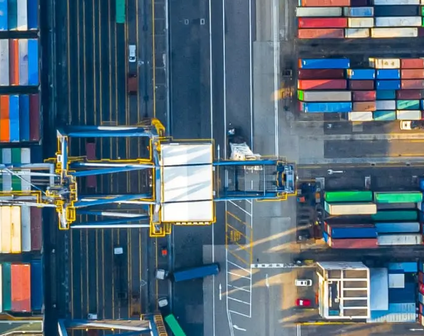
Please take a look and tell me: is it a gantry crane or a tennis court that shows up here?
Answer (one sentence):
I can see a gantry crane in this picture.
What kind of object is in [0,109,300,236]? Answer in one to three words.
container crane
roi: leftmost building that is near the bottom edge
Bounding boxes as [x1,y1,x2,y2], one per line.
[317,261,370,320]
